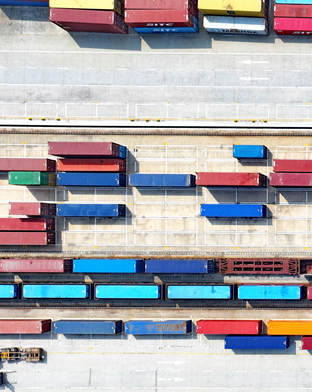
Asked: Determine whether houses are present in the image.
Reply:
No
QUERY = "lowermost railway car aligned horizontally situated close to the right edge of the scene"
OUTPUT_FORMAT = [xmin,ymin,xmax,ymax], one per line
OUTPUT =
[237,284,308,299]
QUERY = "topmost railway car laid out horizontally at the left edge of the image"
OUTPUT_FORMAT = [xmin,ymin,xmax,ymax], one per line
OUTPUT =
[5,258,74,273]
